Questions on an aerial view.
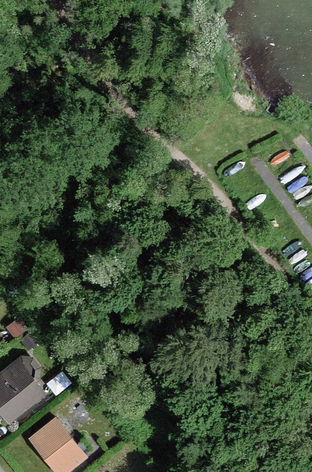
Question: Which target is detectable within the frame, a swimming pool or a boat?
boat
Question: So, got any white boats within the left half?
No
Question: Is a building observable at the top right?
No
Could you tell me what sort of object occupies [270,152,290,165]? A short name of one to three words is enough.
boat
